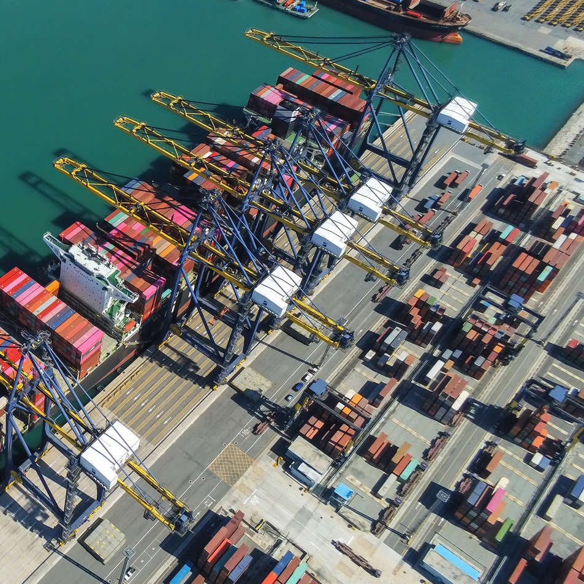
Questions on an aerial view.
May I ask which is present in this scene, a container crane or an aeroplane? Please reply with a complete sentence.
There is a container crane in the scene.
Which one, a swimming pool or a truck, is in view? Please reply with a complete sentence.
It is a truck that can be seen here.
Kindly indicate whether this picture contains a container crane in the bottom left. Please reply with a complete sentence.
Yes, a container crane appears in the bottom left.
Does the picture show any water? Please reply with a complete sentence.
Yes, some water is visible.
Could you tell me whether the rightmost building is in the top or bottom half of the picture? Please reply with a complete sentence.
It is in the bottom half that the rightmost building appears.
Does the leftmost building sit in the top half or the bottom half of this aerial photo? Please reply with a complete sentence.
The leftmost building is in the bottom half of the image.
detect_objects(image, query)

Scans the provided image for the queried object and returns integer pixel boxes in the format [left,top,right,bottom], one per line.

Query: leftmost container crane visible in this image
[0,315,208,550]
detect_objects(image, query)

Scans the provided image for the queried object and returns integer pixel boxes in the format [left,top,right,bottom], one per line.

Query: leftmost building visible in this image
[282,436,335,483]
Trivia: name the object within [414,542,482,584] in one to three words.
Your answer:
building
